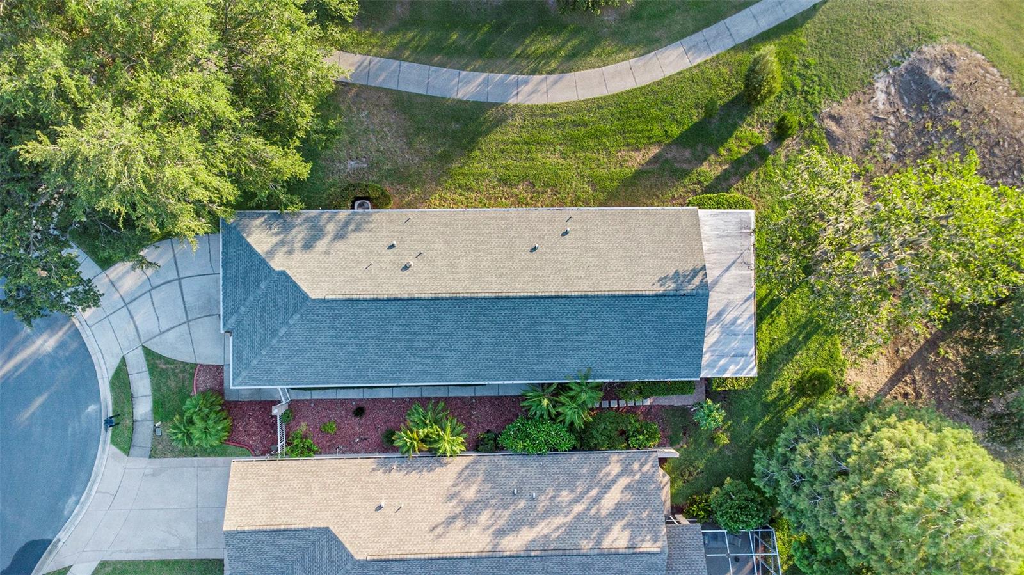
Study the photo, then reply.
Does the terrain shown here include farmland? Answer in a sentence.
No, there's no farmland in this view.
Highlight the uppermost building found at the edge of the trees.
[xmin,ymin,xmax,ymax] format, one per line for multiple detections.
[217,204,759,390]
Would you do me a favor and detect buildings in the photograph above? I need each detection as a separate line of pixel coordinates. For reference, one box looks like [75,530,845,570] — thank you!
[223,448,710,575]
[217,204,759,390]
